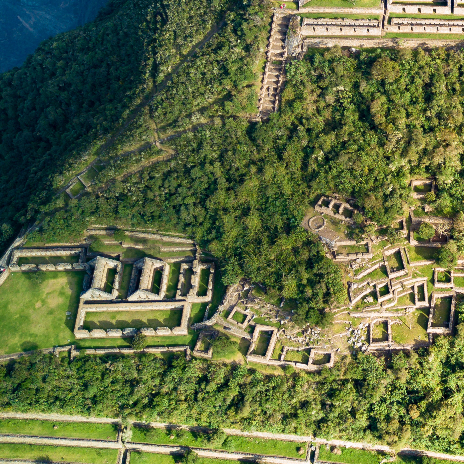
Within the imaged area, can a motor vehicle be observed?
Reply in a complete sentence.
No, no motor vehicle is visible in the scene.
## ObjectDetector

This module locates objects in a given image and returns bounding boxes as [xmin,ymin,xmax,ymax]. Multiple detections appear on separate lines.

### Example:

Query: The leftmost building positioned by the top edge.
[301,16,382,36]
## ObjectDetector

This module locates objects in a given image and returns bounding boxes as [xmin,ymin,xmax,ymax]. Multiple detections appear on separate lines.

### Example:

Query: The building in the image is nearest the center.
[175,265,214,308]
